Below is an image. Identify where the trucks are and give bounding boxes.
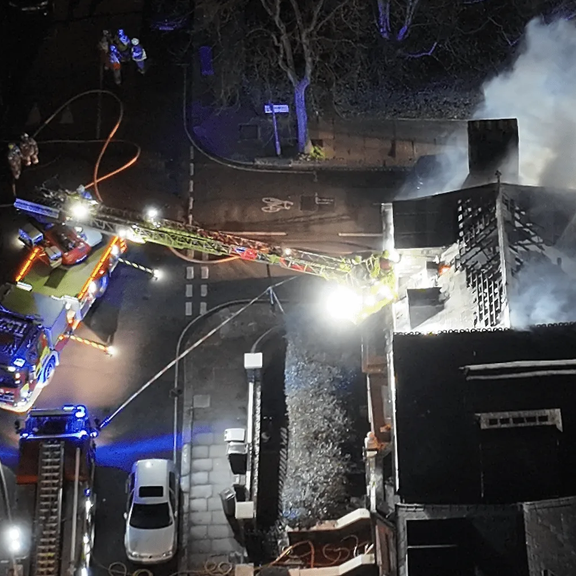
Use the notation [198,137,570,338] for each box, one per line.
[0,175,406,404]
[8,401,114,576]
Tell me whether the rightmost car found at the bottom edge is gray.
Yes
